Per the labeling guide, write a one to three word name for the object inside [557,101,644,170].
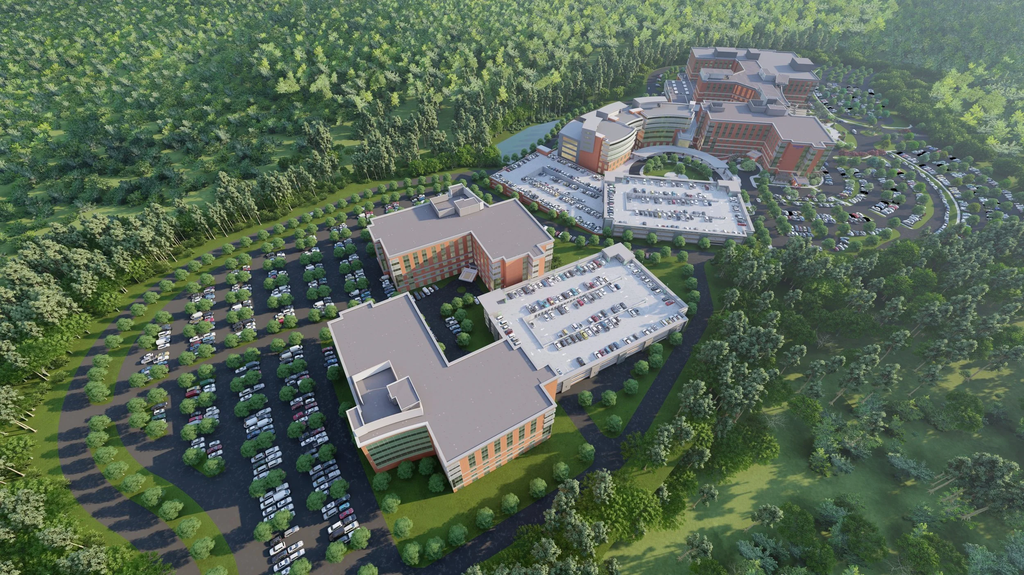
building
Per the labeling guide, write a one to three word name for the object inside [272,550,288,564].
car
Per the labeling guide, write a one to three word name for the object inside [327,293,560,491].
building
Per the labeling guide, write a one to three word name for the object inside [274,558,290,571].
vehicle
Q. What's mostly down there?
trees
